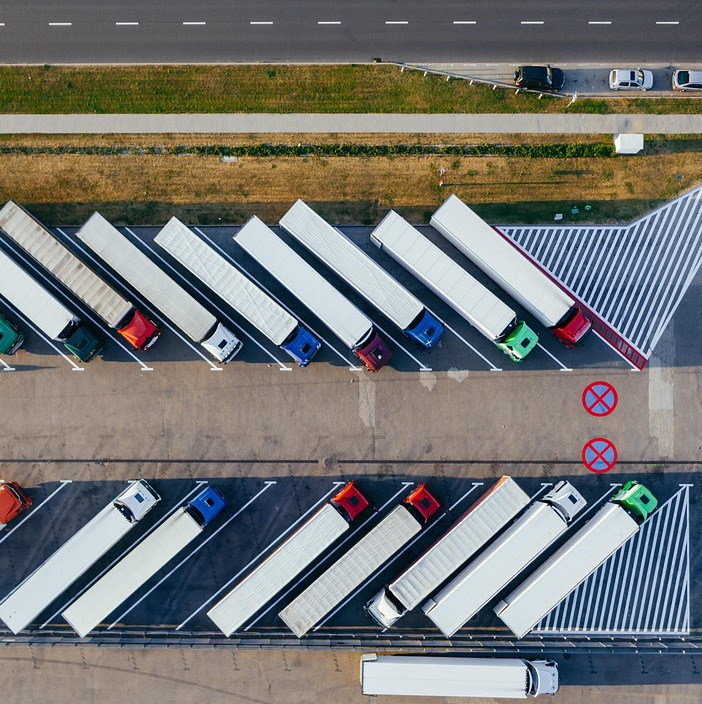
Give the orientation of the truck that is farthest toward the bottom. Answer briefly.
from left to right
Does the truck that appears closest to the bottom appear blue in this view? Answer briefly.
No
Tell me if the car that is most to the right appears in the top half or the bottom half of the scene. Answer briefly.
top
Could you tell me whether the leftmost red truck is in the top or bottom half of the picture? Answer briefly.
bottom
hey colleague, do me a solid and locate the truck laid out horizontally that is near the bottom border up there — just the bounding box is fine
[359,652,553,698]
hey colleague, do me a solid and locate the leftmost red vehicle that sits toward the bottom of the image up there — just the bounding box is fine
[0,481,40,540]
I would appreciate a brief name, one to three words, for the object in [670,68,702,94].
car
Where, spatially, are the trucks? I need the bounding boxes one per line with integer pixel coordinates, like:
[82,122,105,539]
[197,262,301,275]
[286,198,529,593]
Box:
[368,209,537,362]
[0,248,107,367]
[363,474,531,628]
[426,193,593,349]
[153,216,323,368]
[61,481,230,638]
[421,479,586,638]
[359,652,553,698]
[207,481,371,637]
[233,215,396,372]
[0,475,164,634]
[490,482,657,639]
[0,199,163,353]
[278,482,442,639]
[278,199,445,352]
[75,211,245,368]
[0,481,40,540]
